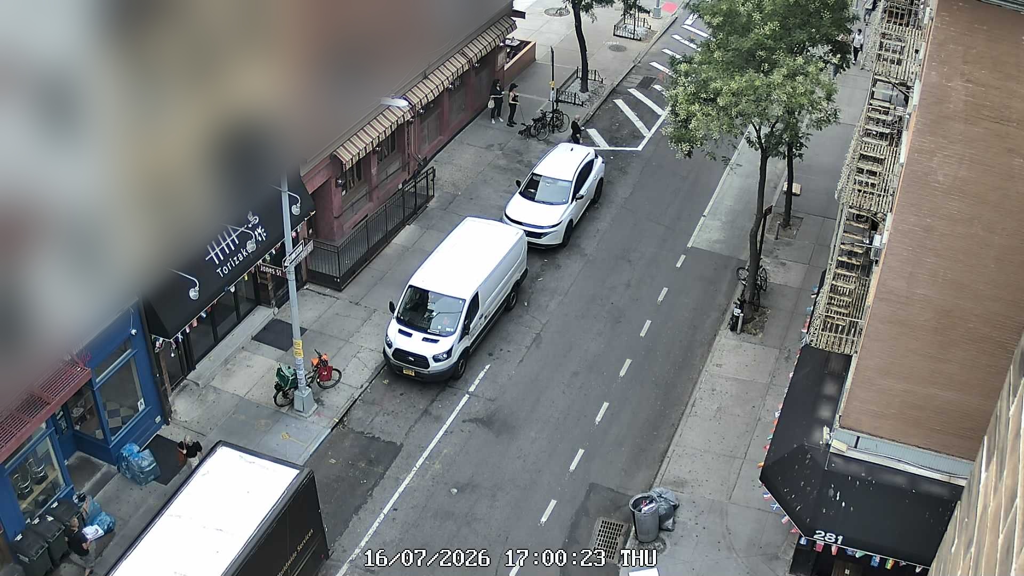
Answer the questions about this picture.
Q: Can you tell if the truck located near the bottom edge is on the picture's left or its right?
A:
left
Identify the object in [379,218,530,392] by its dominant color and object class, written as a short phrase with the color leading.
white van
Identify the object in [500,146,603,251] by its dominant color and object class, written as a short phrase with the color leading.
white car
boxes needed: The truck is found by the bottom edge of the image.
[90,438,333,576]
